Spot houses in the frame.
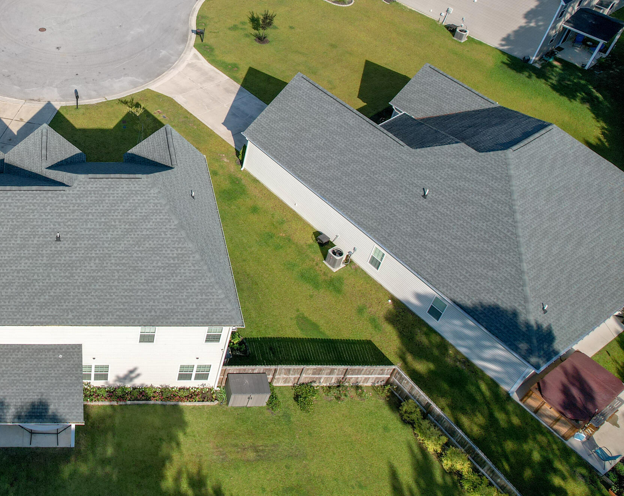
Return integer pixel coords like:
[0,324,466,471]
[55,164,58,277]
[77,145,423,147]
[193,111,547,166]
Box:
[234,62,624,395]
[395,0,624,71]
[0,121,247,444]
